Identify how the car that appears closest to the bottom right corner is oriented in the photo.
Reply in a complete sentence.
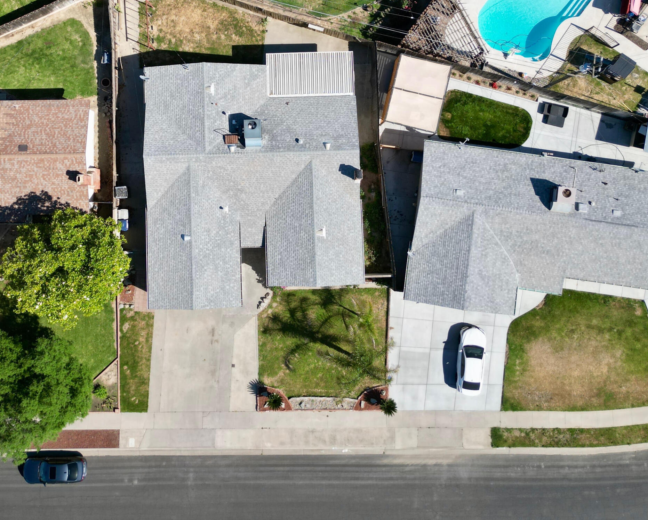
In this picture, the car that appears closest to the bottom right corner is oriented vertically.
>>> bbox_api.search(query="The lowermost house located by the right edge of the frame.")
[402,139,648,315]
